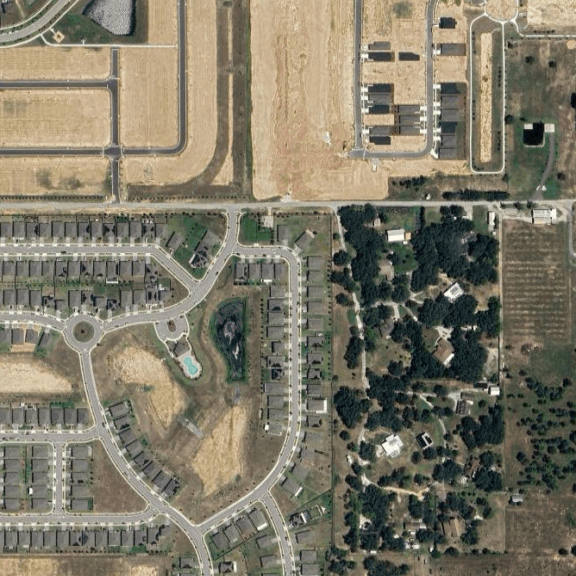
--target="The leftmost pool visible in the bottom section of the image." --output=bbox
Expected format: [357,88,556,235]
[178,352,201,378]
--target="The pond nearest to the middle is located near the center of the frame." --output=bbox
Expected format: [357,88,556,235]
[216,300,244,379]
